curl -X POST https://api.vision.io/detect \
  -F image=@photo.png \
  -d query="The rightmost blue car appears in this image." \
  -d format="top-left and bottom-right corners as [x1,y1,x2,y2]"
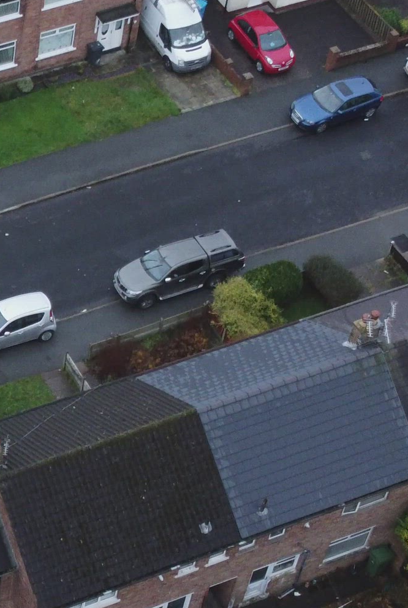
[288,73,385,134]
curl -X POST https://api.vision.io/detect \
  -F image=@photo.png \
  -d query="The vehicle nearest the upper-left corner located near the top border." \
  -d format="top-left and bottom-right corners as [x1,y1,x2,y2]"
[138,0,211,77]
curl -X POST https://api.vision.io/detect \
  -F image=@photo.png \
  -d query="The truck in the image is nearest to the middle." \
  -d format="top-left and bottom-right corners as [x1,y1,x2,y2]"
[113,229,241,312]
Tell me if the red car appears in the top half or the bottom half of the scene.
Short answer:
top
